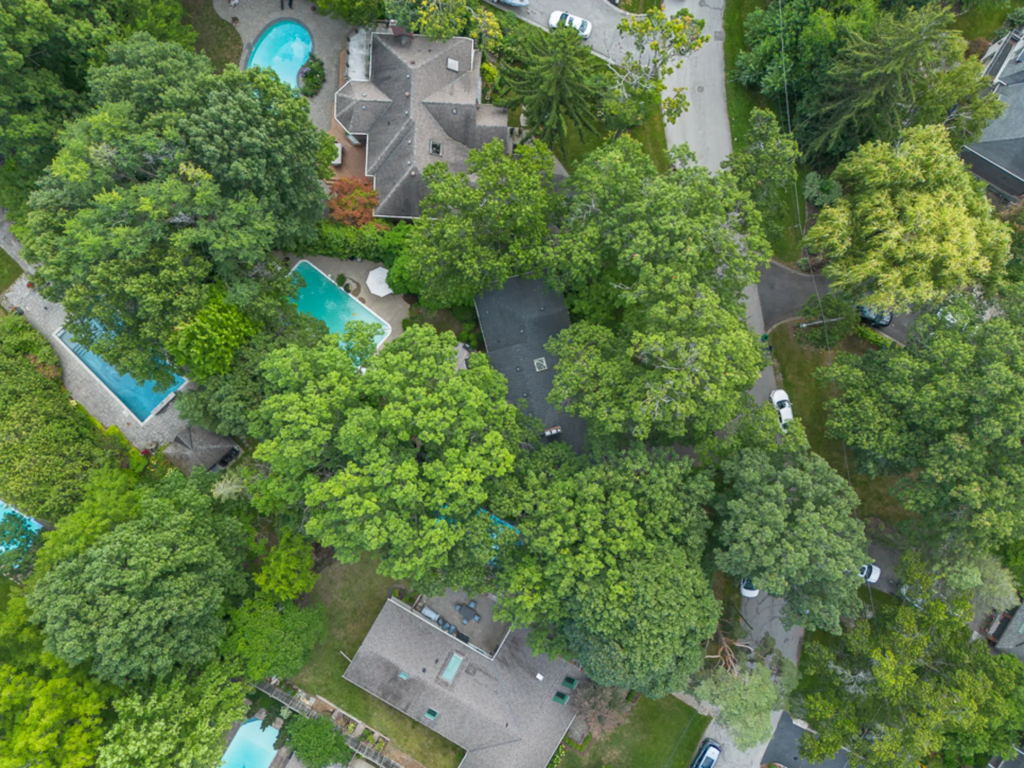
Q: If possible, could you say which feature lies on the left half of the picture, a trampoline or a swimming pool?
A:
swimming pool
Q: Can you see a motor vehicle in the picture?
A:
Yes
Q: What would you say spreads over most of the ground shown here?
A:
trees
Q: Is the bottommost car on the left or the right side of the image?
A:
right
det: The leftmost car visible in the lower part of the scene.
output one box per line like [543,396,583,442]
[684,735,721,768]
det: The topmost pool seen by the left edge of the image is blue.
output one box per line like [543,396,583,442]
[51,315,187,427]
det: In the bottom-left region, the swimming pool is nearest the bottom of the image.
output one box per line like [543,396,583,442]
[215,714,280,768]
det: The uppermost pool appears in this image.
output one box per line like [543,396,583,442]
[241,15,316,87]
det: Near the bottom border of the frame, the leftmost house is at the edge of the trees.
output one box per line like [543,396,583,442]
[341,589,586,768]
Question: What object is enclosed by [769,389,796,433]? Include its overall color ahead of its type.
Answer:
white car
